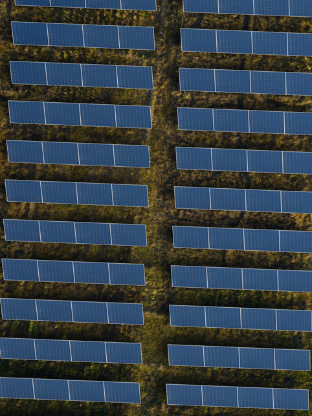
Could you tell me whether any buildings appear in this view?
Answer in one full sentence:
No, I find no building anywhere in the image.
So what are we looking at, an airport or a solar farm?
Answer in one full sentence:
It's a solar farm.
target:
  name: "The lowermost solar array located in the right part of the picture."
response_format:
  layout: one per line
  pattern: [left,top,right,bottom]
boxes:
[166,384,308,411]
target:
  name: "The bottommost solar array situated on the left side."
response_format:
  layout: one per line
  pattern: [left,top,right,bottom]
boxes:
[0,378,140,404]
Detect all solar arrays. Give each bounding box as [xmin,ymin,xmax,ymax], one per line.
[172,226,312,254]
[0,338,141,365]
[171,266,312,293]
[174,187,312,214]
[179,68,312,96]
[7,140,150,169]
[177,107,312,136]
[183,0,312,17]
[169,305,312,333]
[14,0,156,11]
[10,61,153,90]
[181,28,312,57]
[0,378,140,404]
[168,344,310,372]
[176,147,312,175]
[8,101,152,129]
[5,180,148,208]
[11,22,155,51]
[0,299,144,326]
[3,219,147,247]
[1,259,145,287]
[166,384,308,411]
